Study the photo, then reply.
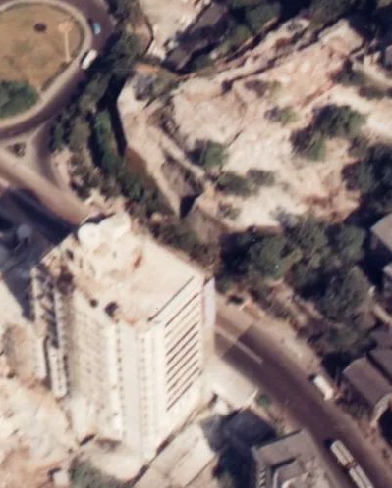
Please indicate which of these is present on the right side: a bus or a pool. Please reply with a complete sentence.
It is a bus that can be seen on the right side.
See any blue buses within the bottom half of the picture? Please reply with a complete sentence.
No, within the bottom half of the picture there is no blue bus.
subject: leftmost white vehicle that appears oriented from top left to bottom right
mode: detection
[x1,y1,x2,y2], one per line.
[315,377,332,397]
